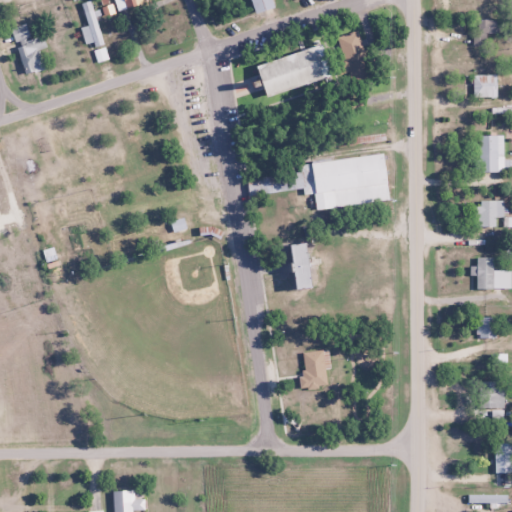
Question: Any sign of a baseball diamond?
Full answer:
Yes, there's a baseball diamond down there.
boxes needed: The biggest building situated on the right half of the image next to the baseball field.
[249,154,391,210]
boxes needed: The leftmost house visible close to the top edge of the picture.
[14,26,48,74]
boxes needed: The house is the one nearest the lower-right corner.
[469,495,510,509]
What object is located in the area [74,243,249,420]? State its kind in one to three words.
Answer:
baseball field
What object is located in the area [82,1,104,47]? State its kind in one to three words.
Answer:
house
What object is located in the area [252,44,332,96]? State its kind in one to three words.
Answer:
building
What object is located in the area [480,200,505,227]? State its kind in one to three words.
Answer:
house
